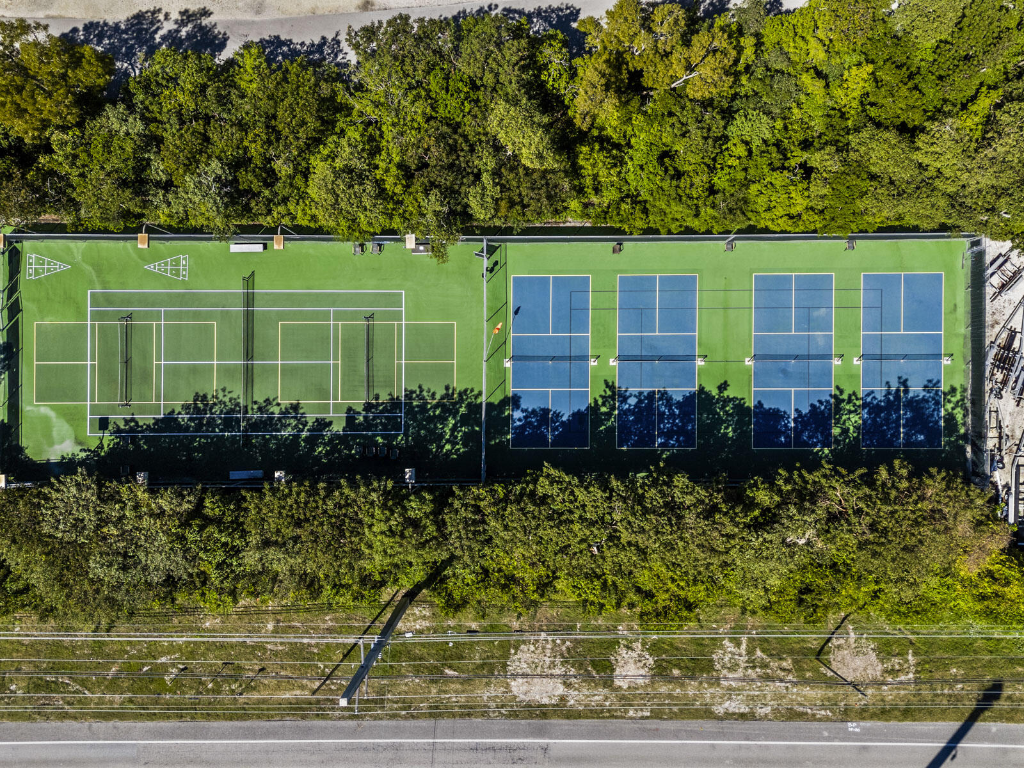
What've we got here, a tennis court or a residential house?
tennis court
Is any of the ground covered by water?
No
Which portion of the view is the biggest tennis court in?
left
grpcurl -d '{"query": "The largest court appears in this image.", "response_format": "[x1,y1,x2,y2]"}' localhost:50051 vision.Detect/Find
[87,290,404,435]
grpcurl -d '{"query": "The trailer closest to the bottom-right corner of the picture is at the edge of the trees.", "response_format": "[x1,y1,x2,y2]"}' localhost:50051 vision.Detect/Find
[1003,430,1024,526]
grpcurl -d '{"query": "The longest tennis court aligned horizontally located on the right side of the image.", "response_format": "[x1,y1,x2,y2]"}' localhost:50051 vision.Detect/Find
[569,289,882,436]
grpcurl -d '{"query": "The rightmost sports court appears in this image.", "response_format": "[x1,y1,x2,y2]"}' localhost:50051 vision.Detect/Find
[861,272,944,449]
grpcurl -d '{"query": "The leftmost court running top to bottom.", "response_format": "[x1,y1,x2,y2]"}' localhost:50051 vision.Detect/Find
[511,275,591,448]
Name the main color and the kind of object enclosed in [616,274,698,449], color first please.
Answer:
blue sports court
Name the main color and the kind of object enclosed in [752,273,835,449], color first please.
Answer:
blue sports court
